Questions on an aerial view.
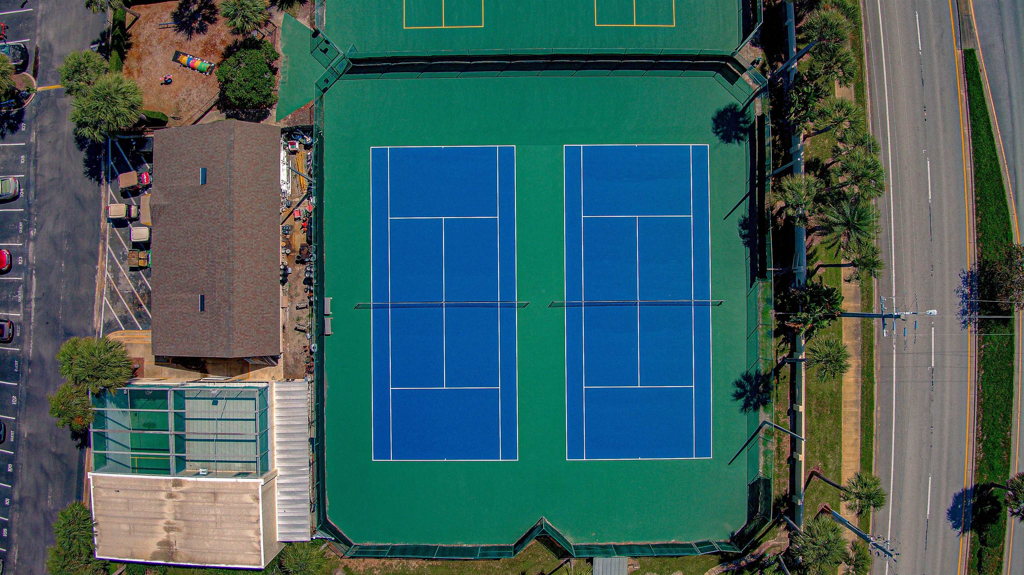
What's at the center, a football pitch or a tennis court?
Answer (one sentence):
Looking at the center, you will find a tennis court.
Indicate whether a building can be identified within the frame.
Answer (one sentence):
Yes, there's a building here.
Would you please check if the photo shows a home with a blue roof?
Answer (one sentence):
No, no home with a blue roof is visible in the scene.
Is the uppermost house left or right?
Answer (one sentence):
The uppermost house is on the left side of the image.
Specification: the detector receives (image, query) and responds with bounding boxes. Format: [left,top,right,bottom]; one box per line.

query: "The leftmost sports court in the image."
[91,378,282,478]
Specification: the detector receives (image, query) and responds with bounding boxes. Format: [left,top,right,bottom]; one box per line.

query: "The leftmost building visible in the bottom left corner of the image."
[85,461,279,569]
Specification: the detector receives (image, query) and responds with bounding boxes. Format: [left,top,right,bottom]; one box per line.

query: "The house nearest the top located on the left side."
[149,120,283,358]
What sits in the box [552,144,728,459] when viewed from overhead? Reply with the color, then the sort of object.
blue tennis court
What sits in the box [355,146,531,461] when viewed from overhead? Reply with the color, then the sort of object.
blue tennis court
